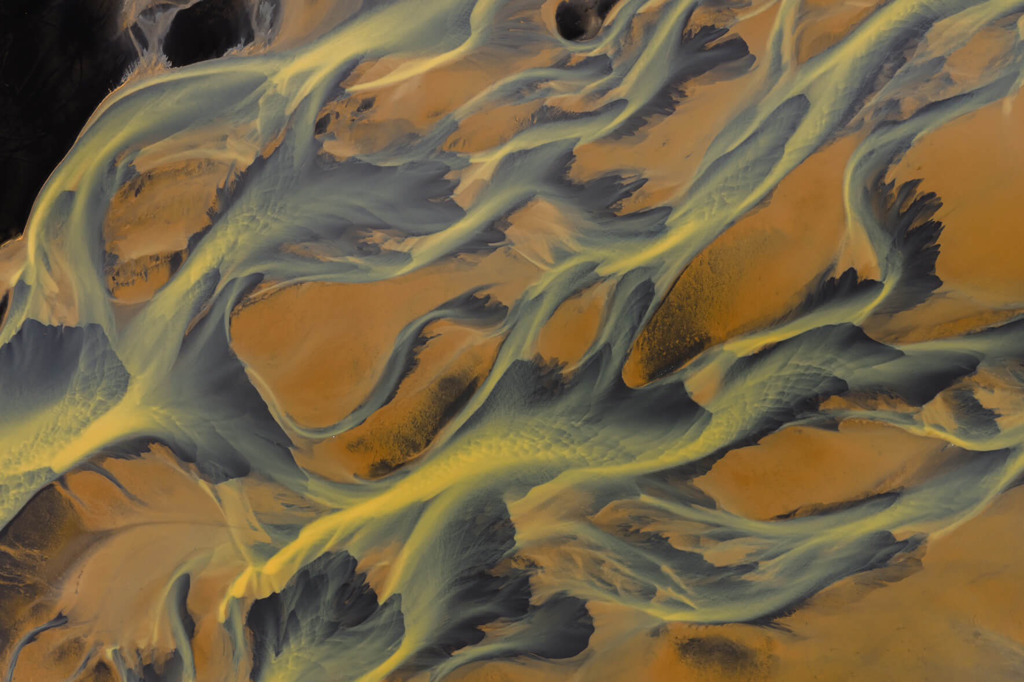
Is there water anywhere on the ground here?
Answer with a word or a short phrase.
Yes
